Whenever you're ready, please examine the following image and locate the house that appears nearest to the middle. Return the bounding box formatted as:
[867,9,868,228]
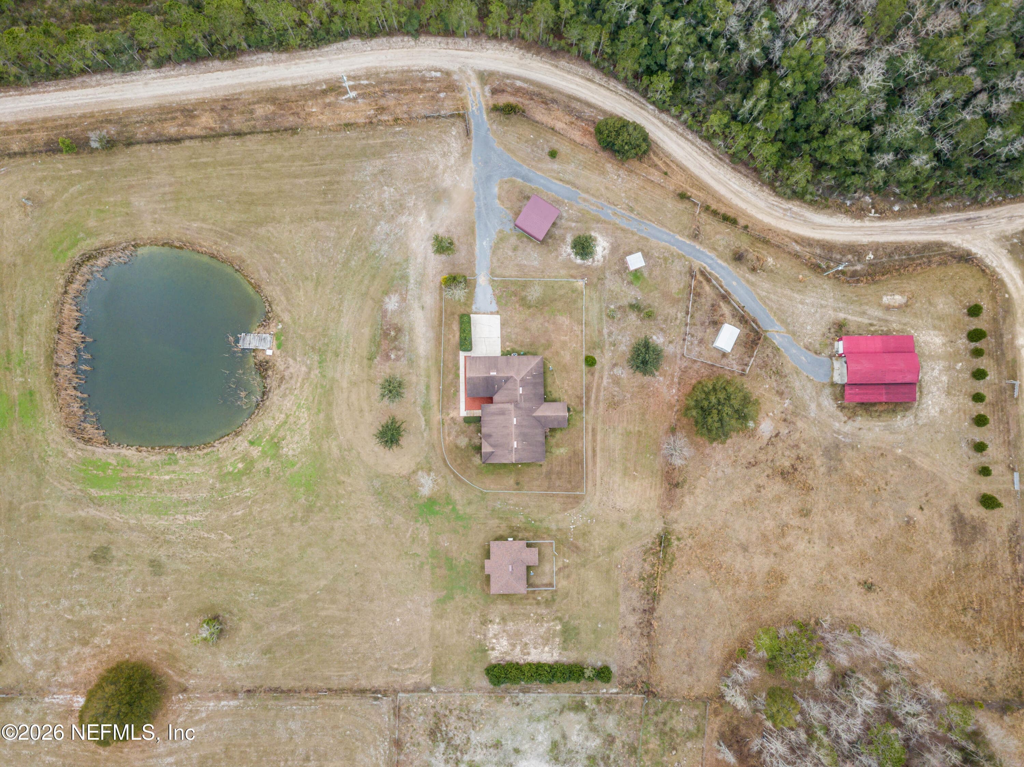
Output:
[466,355,568,463]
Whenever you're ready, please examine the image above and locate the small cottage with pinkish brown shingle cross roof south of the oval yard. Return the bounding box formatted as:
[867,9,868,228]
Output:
[485,541,538,594]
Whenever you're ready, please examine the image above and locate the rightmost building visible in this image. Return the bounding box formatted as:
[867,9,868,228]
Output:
[837,335,920,402]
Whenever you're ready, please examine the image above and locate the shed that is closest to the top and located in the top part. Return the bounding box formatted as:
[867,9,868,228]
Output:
[514,194,560,244]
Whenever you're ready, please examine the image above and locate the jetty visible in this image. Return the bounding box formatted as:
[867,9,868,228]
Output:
[237,333,273,349]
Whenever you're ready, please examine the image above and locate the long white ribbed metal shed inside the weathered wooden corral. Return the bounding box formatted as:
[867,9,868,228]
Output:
[711,324,740,353]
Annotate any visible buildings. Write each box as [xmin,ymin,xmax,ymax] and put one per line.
[837,335,920,402]
[466,355,568,463]
[711,324,740,353]
[625,252,645,272]
[485,541,538,594]
[514,194,560,244]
